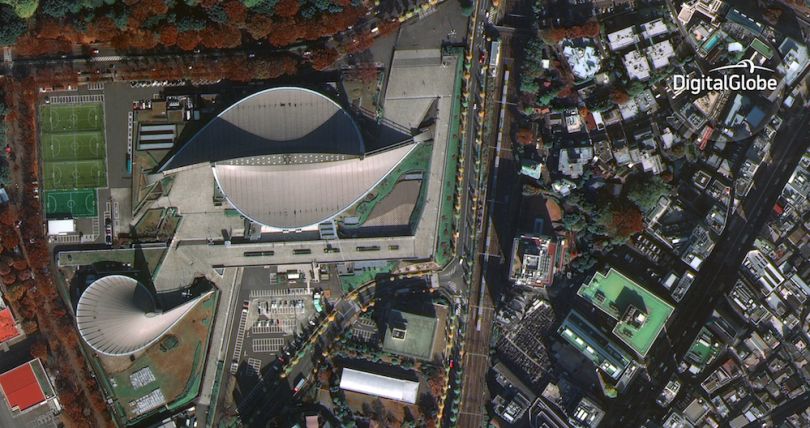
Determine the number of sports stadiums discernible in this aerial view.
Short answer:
two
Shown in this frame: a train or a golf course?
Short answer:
train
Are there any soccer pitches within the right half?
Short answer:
No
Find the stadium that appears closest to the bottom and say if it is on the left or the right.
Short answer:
left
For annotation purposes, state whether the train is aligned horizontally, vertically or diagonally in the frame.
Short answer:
vertically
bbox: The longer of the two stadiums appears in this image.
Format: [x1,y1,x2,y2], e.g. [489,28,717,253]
[146,86,436,232]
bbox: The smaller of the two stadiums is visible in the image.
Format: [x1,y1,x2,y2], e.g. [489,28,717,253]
[75,274,214,356]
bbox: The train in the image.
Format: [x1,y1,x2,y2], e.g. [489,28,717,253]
[477,61,509,331]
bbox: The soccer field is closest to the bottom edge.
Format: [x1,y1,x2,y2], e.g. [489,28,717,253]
[45,189,97,218]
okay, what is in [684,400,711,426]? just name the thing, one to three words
building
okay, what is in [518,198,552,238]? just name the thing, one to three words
building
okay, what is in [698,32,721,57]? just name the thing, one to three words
swimming pool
